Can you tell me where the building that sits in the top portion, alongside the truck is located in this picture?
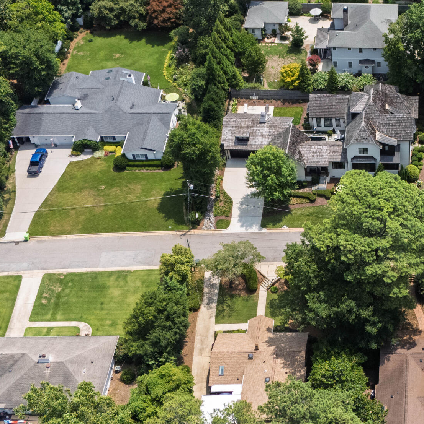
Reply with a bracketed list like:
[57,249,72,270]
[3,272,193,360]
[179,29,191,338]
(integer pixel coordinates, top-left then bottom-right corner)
[12,66,177,162]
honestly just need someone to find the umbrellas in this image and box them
[165,93,179,103]
[308,8,323,16]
